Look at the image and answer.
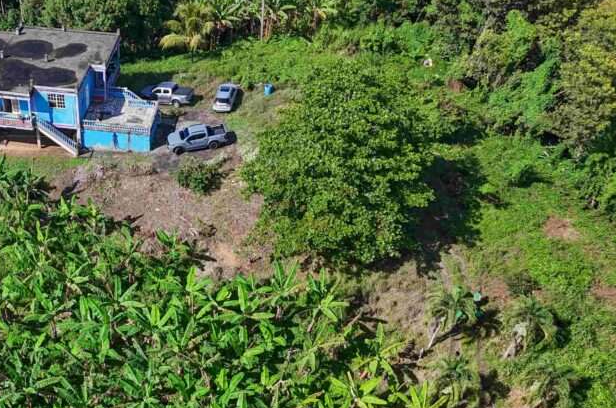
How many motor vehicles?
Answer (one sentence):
The count of motor vehicles comes to 3.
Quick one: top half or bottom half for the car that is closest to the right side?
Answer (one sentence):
You can find the car that is closest to the right side in the top half.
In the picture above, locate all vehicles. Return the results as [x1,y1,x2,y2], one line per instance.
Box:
[209,83,241,111]
[133,75,195,105]
[164,123,234,157]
